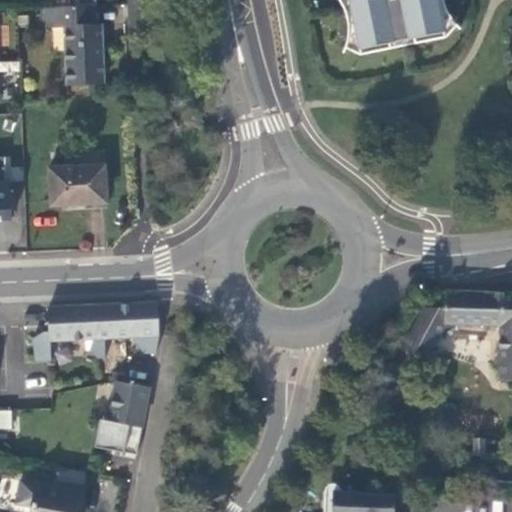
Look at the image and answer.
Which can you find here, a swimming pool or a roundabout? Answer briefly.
roundabout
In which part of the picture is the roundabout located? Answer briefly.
center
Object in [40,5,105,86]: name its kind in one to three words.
house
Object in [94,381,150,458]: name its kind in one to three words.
house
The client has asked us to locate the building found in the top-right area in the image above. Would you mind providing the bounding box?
[340,0,463,54]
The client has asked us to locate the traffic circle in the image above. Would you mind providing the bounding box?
[205,168,384,347]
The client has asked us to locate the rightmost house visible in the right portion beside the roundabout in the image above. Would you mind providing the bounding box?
[404,290,512,352]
